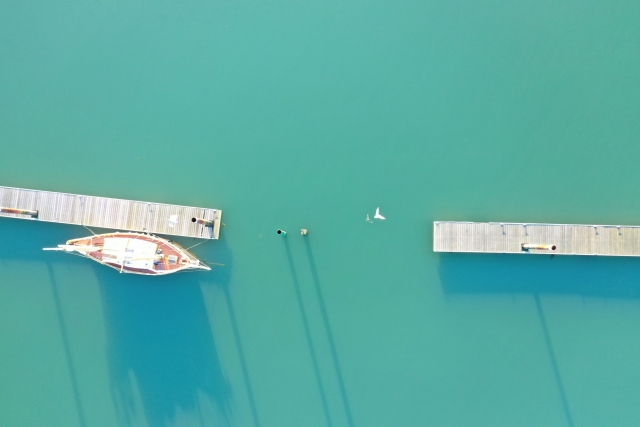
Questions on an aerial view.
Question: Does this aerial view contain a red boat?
No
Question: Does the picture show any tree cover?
No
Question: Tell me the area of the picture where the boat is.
left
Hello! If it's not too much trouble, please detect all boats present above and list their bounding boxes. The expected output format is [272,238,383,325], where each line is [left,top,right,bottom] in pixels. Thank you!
[42,232,209,276]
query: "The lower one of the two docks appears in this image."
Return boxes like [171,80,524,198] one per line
[433,221,640,256]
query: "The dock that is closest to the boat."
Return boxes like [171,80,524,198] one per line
[0,187,222,239]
